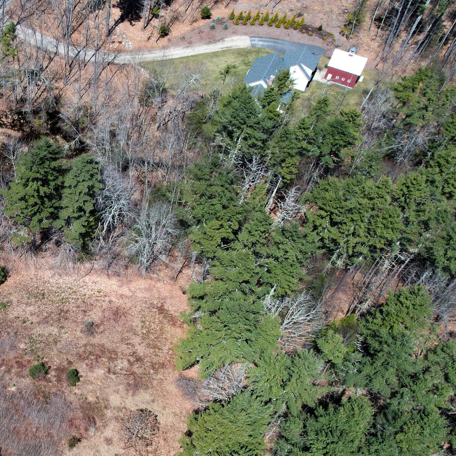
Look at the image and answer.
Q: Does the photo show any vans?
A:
No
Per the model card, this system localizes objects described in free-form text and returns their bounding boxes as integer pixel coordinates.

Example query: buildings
[241,45,320,115]
[323,47,368,90]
